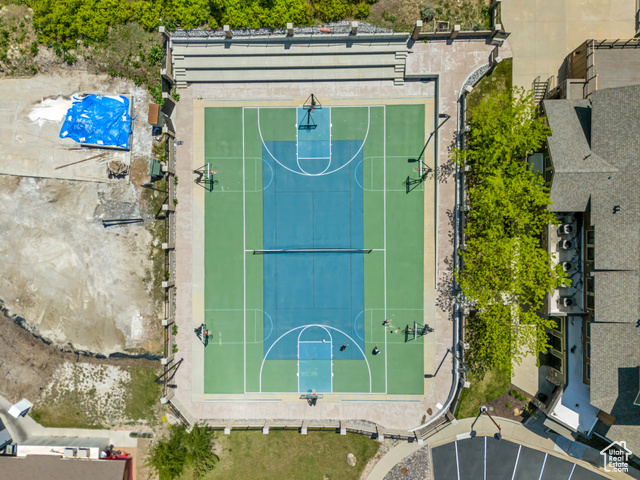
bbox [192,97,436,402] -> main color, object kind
green sports court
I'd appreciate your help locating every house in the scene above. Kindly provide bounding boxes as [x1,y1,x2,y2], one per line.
[521,35,640,463]
[0,436,139,480]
